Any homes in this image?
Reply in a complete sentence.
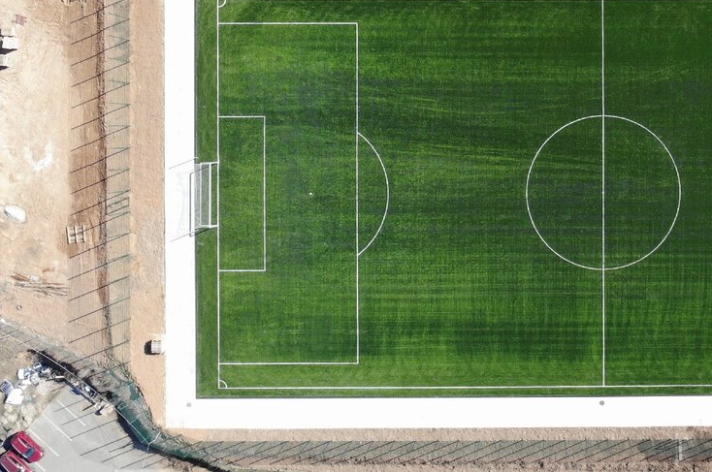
No, there isn't any home down there.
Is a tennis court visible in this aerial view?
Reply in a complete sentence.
No, no tennis court is visible in the scene.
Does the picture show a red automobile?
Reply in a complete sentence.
Yes, a red automobile can be made out from above.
